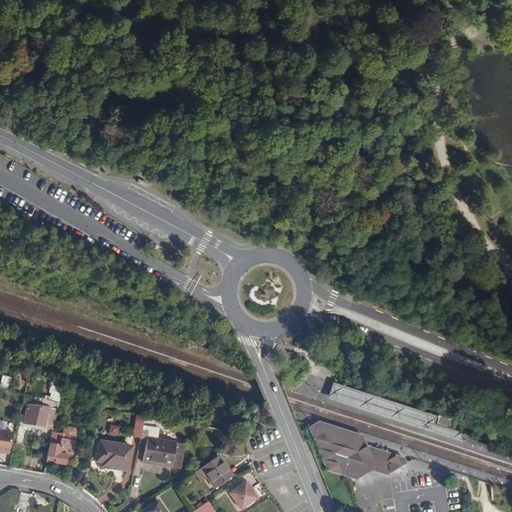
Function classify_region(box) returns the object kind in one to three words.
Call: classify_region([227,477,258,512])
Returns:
house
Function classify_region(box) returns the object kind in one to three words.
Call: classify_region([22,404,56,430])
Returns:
house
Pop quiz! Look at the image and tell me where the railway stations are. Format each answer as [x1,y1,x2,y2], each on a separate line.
[310,421,406,480]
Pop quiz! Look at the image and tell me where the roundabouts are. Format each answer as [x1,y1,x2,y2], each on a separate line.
[221,248,312,338]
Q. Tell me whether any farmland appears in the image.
No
